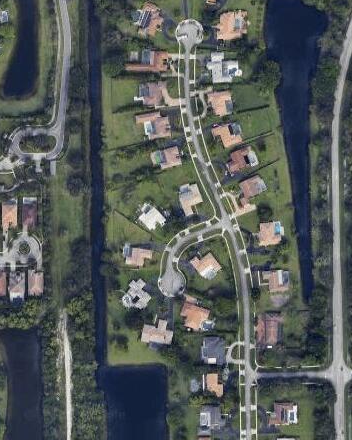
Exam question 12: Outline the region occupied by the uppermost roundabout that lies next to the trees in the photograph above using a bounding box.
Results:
[11,126,65,160]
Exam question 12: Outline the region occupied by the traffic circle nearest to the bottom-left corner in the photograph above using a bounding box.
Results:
[8,233,40,264]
